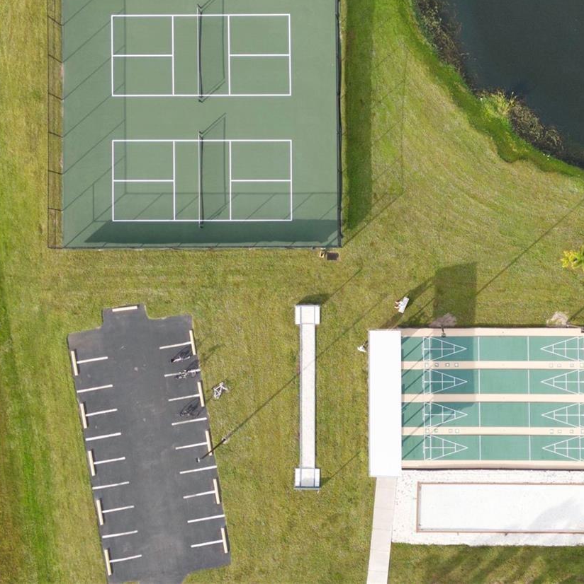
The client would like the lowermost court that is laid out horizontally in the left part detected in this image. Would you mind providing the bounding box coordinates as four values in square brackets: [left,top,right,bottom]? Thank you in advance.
[63,117,343,247]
